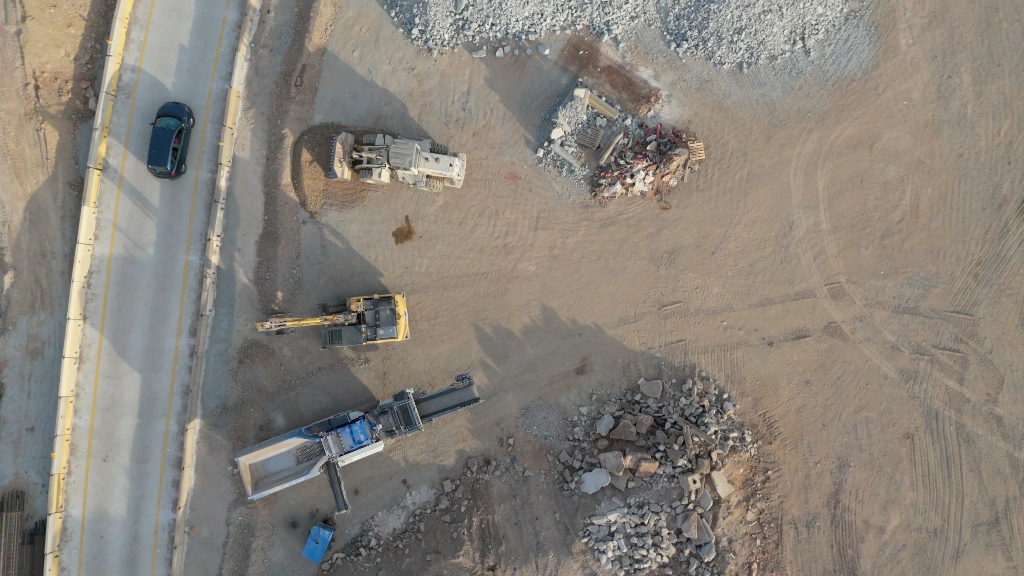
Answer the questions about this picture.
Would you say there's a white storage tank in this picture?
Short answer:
No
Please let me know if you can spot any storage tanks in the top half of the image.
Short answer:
No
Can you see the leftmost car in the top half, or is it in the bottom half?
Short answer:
top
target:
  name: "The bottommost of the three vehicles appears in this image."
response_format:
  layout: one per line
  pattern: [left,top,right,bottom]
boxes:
[252,292,411,353]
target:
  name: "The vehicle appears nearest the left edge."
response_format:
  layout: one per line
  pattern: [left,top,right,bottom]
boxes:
[150,101,198,180]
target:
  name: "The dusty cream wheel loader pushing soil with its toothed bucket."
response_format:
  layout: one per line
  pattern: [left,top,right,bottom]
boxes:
[326,130,467,192]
